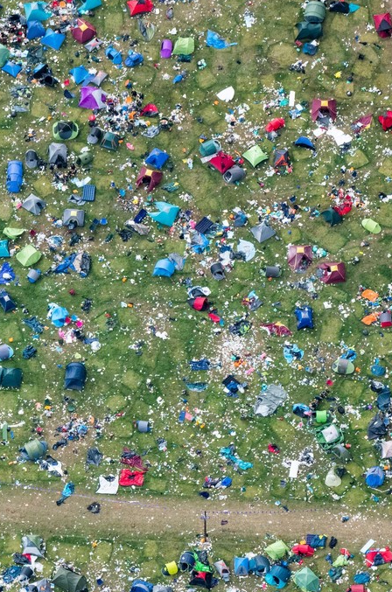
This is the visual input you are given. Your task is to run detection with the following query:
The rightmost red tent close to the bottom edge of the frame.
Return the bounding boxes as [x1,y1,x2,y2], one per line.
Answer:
[363,548,392,567]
